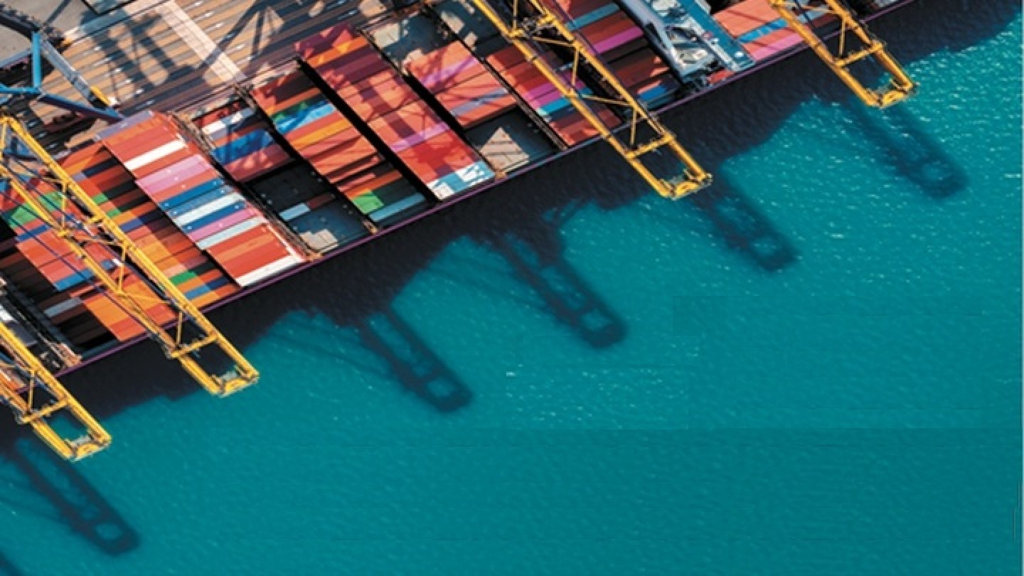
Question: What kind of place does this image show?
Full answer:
This looks like a port.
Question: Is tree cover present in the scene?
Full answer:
No, the scene doesn't show any tree cover.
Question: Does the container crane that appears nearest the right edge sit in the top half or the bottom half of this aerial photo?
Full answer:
It is in the top half that the container crane that appears nearest the right edge appears.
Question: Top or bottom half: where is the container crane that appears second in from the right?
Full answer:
The top half of the photo is where the container crane that appears second in from the right is.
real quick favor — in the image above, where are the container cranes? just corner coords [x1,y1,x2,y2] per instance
[0,318,118,460]
[0,0,264,396]
[462,0,711,199]
[758,0,922,108]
